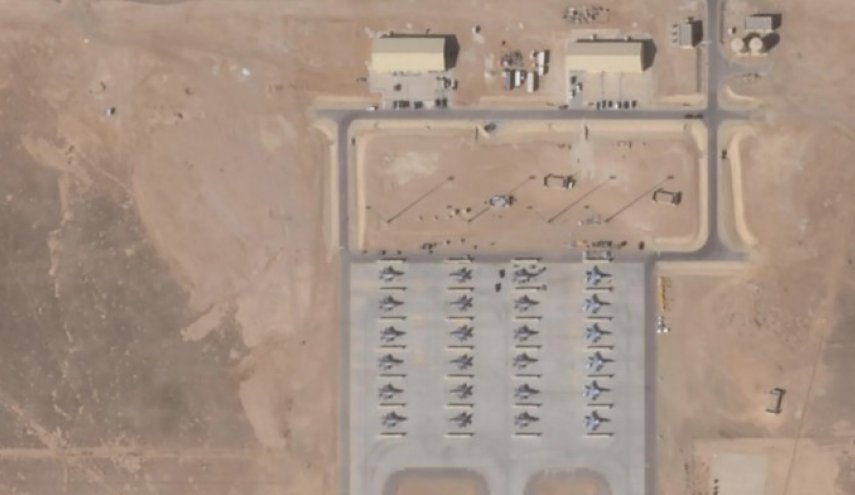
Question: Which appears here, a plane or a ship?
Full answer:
It is a plane that can be seen here.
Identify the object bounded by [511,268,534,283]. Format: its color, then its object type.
gray airplane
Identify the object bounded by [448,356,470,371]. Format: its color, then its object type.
gray airplane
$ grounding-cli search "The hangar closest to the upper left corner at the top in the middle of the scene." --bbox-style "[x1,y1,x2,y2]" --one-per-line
[371,38,447,72]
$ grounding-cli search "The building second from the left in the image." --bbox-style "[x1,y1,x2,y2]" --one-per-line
[565,42,644,73]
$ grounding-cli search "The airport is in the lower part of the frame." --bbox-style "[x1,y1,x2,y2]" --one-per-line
[337,261,656,495]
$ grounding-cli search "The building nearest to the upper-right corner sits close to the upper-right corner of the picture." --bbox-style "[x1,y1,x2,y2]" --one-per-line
[746,17,773,31]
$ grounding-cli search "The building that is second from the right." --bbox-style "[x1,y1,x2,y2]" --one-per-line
[680,23,694,48]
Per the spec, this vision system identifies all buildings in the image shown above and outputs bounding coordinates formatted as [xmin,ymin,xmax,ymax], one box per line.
[565,42,644,73]
[746,17,773,31]
[371,38,447,72]
[680,23,694,48]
